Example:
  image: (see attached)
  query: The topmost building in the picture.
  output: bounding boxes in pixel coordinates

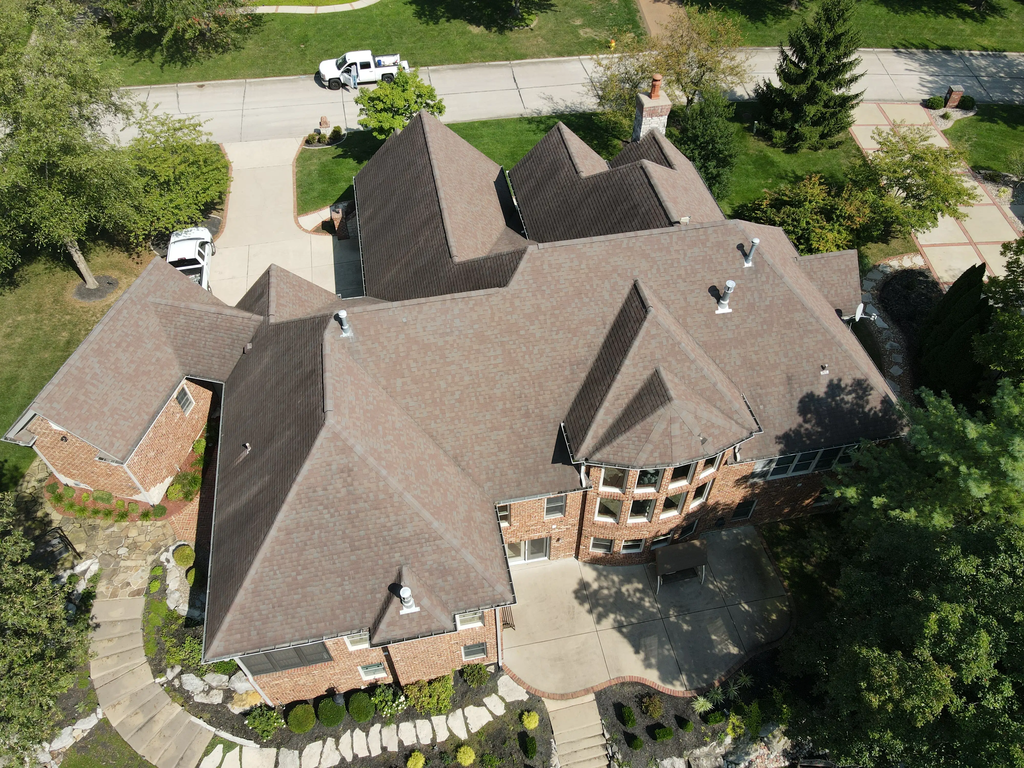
[0,75,918,707]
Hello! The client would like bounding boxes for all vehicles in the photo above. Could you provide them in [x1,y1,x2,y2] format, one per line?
[318,48,406,89]
[161,226,215,288]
